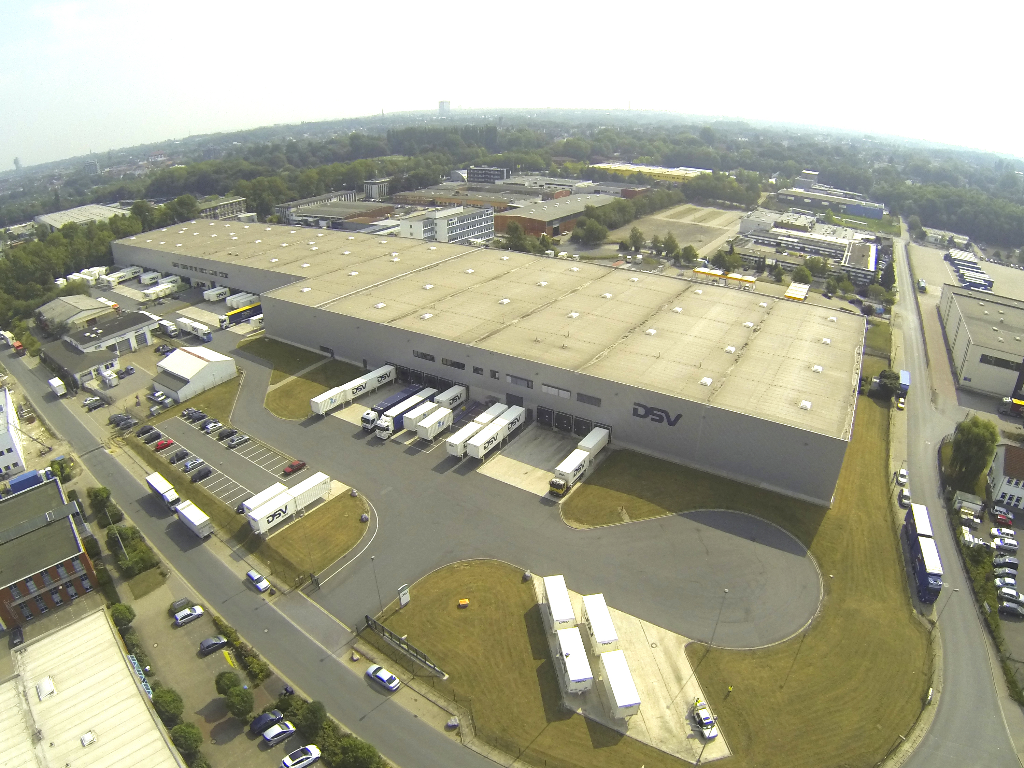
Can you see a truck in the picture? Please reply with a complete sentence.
Yes, looking at the shot, I can spot a truck.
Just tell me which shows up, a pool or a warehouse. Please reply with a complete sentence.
There is a warehouse in the scene.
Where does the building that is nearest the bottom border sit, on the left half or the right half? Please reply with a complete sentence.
The building that is nearest the bottom border appears in the left half of the scene.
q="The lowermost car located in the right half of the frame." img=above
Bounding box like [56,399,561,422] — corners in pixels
[691,691,723,740]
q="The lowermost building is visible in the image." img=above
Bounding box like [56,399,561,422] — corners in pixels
[0,606,189,768]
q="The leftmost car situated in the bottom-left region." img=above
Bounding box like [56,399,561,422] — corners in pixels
[3,619,25,646]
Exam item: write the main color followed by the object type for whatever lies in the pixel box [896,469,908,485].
white vehicle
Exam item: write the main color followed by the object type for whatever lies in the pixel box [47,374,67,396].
white vehicle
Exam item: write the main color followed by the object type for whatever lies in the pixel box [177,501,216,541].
white trailer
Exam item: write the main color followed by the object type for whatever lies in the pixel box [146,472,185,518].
white truck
